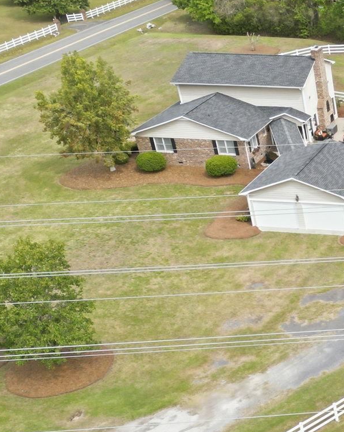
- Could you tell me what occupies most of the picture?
grass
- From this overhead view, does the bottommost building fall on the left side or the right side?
right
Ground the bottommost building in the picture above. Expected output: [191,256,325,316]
[239,138,344,231]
